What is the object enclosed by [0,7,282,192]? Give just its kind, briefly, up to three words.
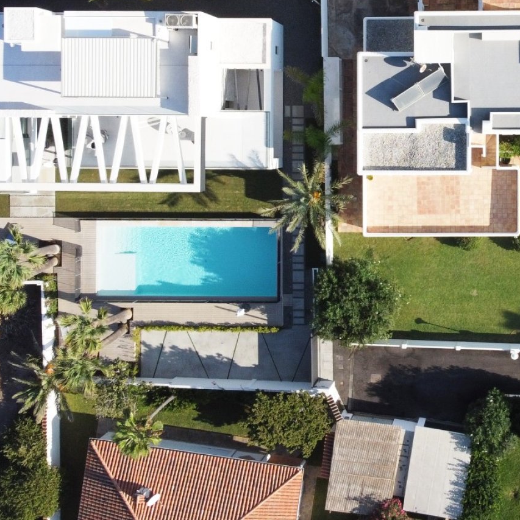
house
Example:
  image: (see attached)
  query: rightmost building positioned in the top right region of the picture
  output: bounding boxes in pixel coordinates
[358,10,520,235]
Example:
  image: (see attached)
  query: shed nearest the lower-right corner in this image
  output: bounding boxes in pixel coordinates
[401,423,470,520]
